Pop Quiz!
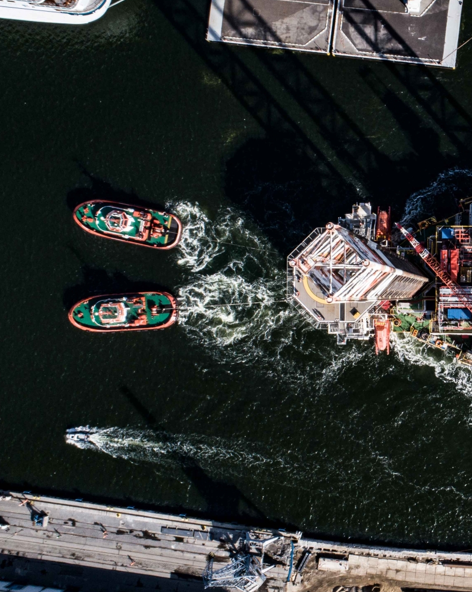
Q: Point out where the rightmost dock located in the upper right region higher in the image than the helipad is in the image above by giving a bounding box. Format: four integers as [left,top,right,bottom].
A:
[332,0,463,71]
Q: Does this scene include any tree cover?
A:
No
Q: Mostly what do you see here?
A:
water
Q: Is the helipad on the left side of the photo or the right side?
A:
right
